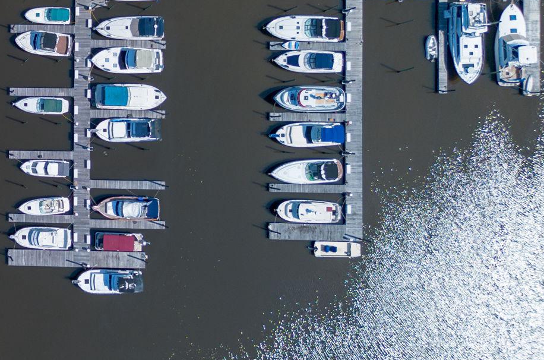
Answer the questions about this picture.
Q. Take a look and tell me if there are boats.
Yes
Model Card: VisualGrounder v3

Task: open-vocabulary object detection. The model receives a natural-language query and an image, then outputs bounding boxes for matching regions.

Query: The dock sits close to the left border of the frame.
[8,0,166,269]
